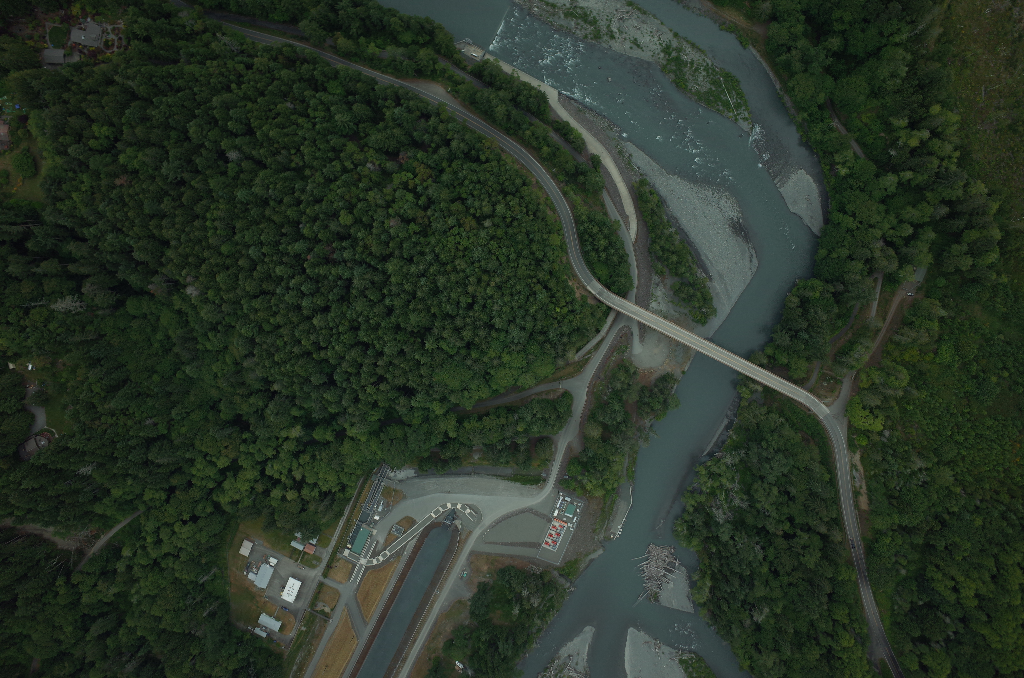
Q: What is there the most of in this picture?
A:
trees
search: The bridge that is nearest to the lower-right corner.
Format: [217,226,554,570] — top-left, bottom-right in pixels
[587,279,830,419]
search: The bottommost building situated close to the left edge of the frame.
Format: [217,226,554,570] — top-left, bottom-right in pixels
[25,436,51,455]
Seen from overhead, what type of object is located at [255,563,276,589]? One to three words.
building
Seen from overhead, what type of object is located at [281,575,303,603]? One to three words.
building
